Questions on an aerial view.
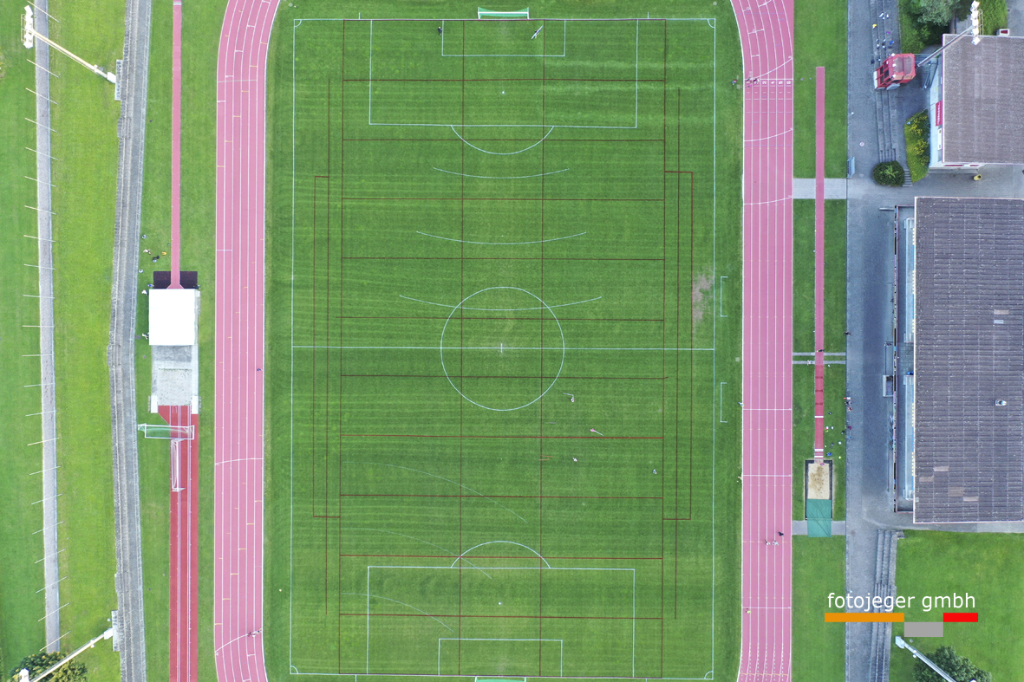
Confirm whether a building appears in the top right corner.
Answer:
Yes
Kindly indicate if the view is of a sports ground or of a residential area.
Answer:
sports ground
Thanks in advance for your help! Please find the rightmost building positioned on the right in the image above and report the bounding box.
[930,34,1024,168]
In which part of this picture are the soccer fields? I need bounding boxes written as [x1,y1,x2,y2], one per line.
[264,0,743,682]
